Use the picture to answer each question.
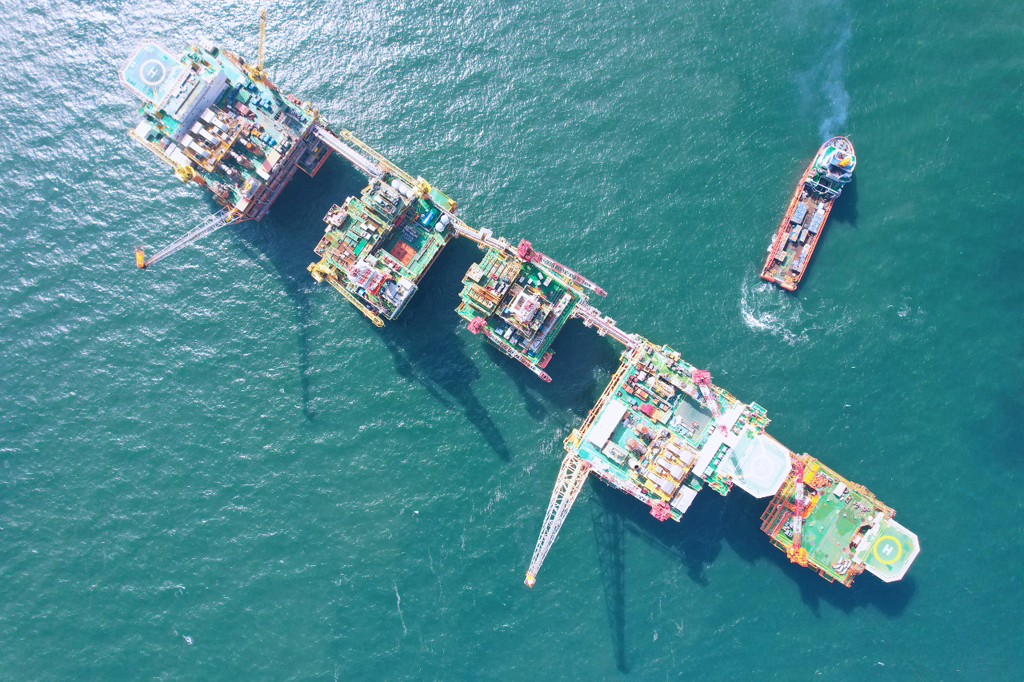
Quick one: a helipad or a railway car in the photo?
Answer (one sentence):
Of the two, only a helipad appears.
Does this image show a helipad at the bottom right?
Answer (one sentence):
Yes, the scene does show a helipad at the bottom right.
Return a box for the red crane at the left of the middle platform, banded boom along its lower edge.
[464,312,553,382]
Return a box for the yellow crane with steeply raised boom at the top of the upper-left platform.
[247,10,280,95]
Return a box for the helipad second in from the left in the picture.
[715,429,792,499]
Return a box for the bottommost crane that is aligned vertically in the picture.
[777,458,806,566]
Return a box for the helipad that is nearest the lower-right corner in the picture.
[852,513,920,583]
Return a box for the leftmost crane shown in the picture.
[127,129,210,187]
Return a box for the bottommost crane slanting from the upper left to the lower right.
[587,461,677,521]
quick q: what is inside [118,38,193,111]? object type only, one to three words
helipad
